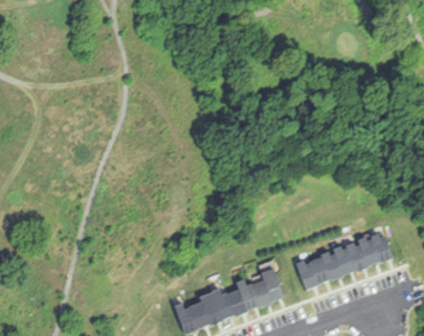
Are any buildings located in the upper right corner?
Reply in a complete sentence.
No, I see no building in the upper right corner.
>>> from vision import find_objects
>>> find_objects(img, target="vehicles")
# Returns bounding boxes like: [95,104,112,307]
[414,284,424,290]
[352,288,358,298]
[330,296,337,307]
[370,282,376,292]
[265,320,272,331]
[402,290,412,300]
[254,324,262,336]
[348,326,360,336]
[287,312,294,322]
[280,314,287,324]
[341,292,348,303]
[414,290,424,297]
[398,272,404,283]
[298,308,306,319]
[306,316,318,324]
[248,326,254,336]
[363,284,370,294]
[416,296,424,303]
[242,328,248,336]
[329,328,340,335]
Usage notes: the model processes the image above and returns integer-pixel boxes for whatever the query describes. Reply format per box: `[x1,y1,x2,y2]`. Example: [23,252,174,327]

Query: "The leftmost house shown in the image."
[174,270,283,335]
